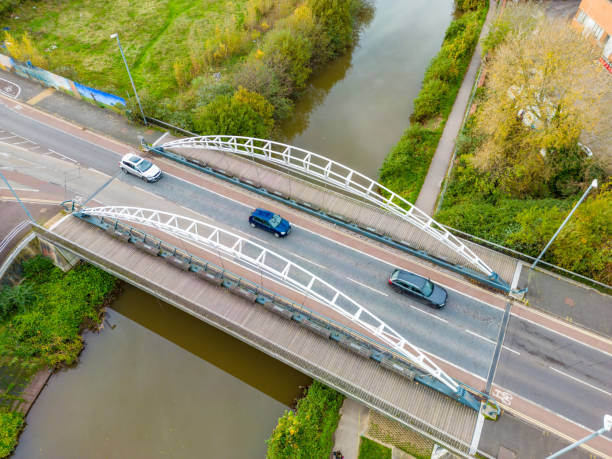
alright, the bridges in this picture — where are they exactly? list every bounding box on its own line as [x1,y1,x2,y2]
[36,124,530,459]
